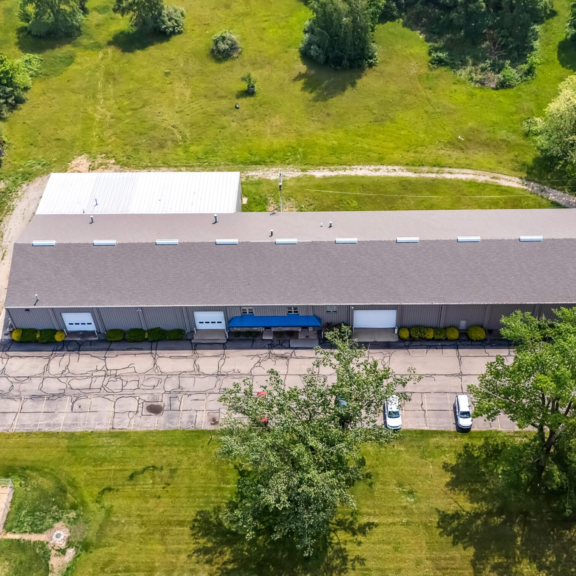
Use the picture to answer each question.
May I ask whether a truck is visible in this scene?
No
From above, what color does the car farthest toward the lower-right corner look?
white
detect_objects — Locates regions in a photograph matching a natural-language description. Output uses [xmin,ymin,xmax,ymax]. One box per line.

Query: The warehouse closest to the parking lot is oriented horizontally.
[4,209,576,331]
